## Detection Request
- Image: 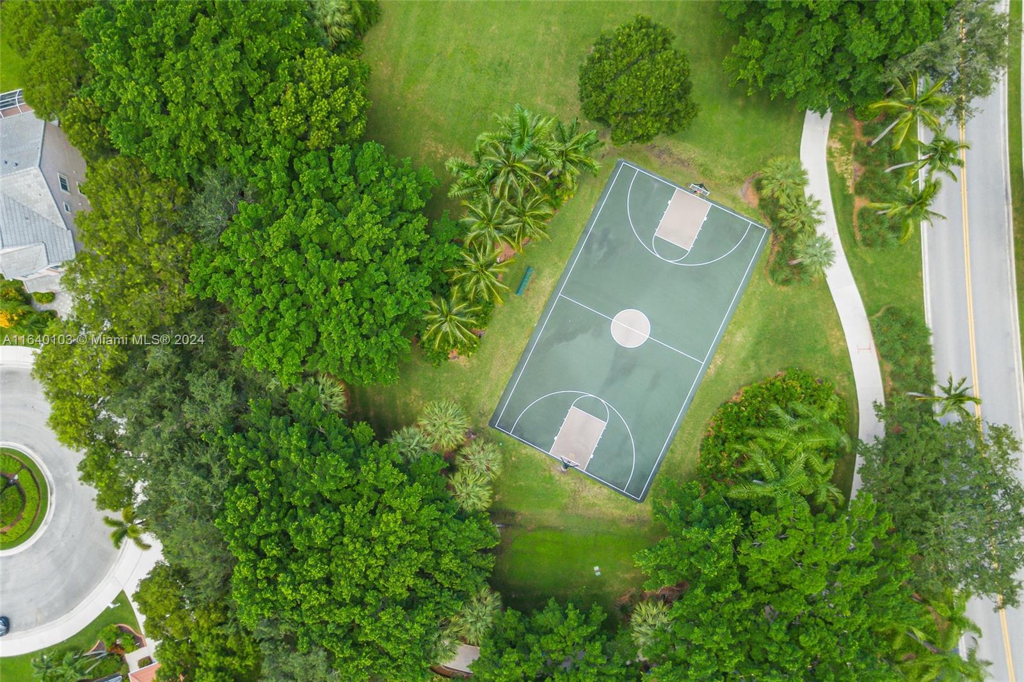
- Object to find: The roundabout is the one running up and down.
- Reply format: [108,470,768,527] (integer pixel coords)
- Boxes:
[0,443,52,556]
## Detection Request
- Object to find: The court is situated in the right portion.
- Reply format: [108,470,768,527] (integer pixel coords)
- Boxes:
[488,157,771,504]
